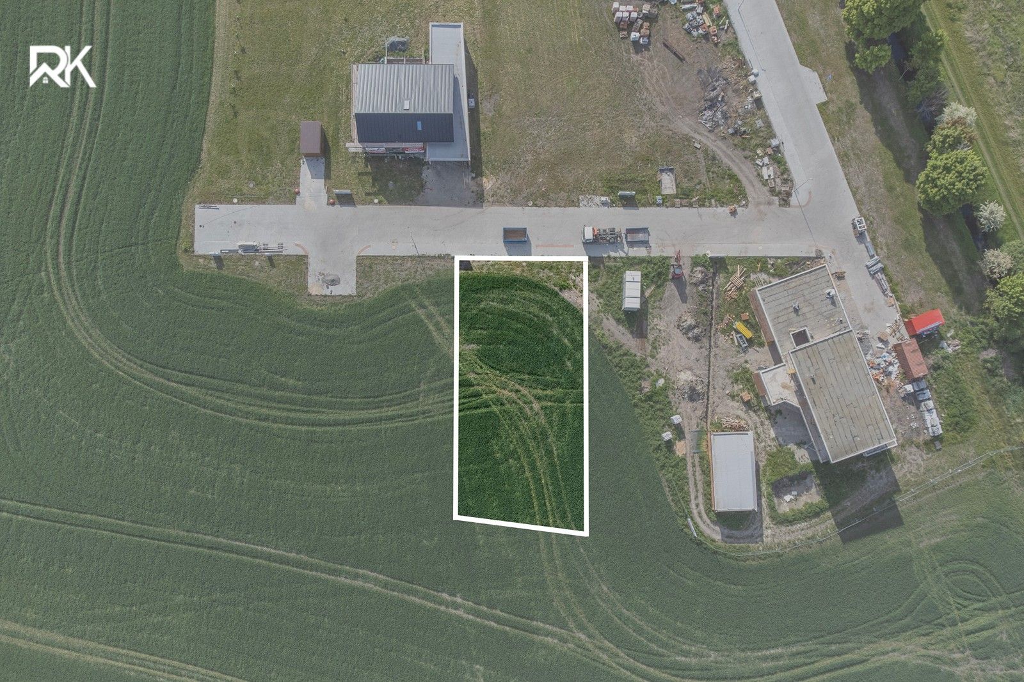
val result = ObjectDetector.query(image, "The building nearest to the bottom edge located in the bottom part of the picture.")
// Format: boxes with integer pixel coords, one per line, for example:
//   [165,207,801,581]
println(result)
[706,428,757,513]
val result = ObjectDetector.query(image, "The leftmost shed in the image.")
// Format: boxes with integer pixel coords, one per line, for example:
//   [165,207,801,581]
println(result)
[300,121,325,159]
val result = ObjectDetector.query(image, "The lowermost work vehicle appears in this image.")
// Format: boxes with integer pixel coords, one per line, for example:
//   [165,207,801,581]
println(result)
[671,255,683,281]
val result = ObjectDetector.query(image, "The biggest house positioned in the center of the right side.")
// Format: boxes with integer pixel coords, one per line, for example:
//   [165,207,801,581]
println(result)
[748,265,897,463]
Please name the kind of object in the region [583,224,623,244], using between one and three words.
vehicle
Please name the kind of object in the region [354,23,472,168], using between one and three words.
house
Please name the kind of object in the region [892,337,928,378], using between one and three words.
shipping container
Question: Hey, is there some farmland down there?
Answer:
Yes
